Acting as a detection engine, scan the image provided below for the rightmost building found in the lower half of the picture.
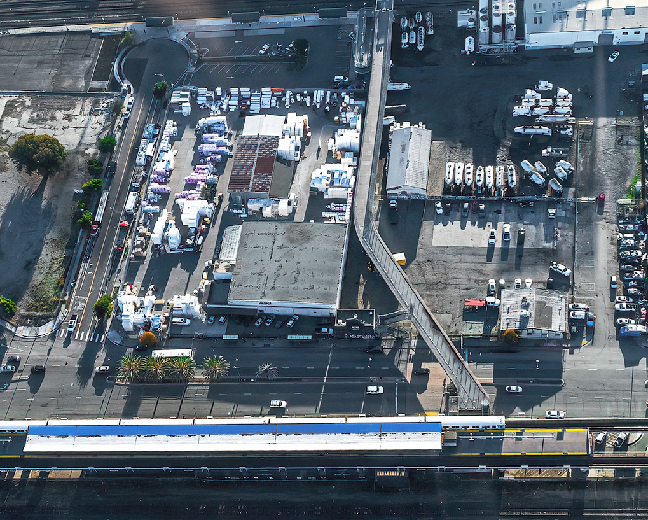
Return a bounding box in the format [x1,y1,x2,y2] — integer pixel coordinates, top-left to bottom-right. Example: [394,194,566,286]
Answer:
[499,287,568,338]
